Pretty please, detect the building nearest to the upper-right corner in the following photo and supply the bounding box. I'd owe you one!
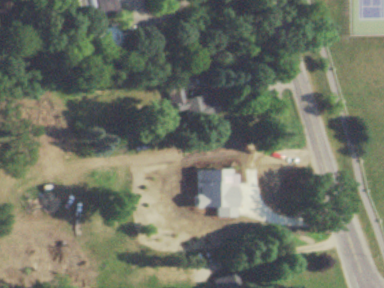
[170,86,216,118]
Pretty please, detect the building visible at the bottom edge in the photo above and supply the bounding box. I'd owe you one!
[216,272,242,288]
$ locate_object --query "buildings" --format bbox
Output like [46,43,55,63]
[92,0,124,16]
[216,272,242,288]
[197,168,244,219]
[170,86,216,118]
